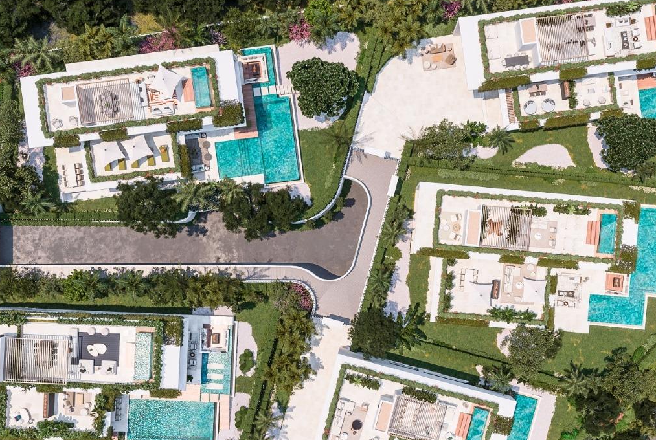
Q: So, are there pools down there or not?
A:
Yes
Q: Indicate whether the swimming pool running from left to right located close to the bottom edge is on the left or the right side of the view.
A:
left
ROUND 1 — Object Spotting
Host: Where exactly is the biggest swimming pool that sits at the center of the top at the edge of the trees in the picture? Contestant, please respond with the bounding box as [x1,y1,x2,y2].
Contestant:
[215,43,305,188]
